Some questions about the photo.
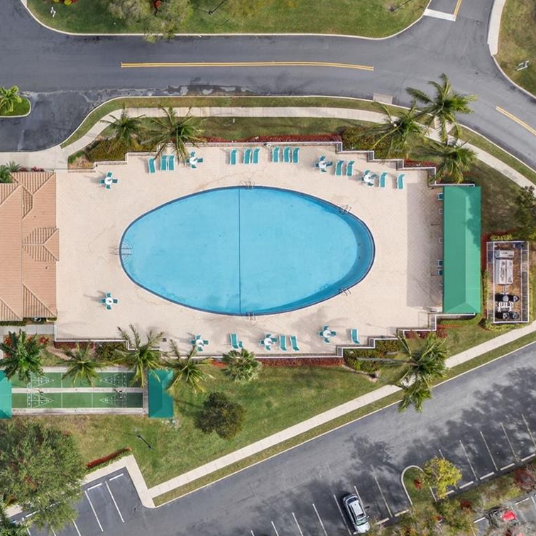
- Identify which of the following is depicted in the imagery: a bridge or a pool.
pool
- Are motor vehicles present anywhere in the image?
Yes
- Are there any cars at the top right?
No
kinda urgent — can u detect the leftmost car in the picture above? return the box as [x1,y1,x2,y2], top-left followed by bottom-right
[342,492,370,534]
